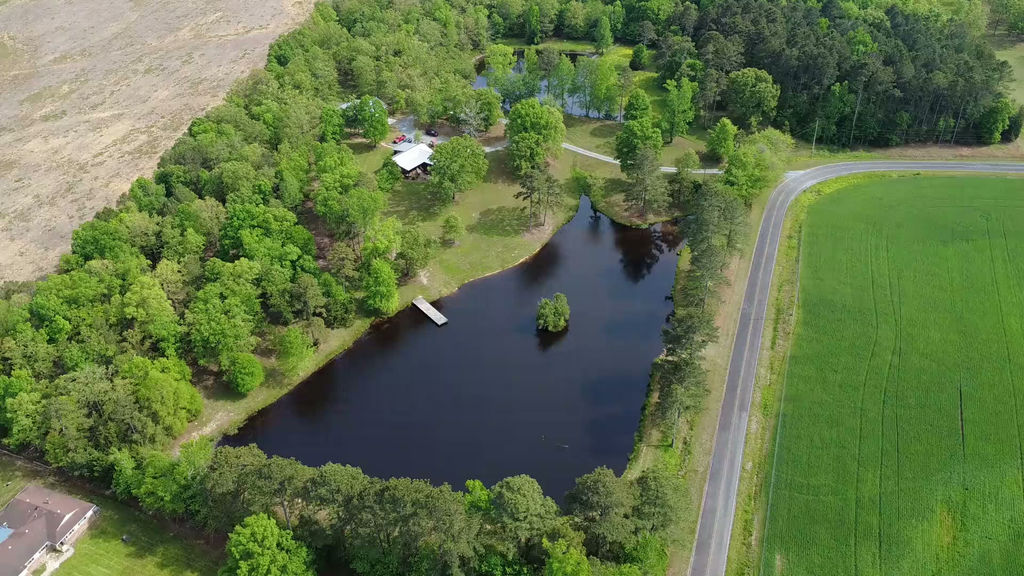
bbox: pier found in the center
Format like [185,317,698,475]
[413,298,449,328]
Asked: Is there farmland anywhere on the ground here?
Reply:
Yes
